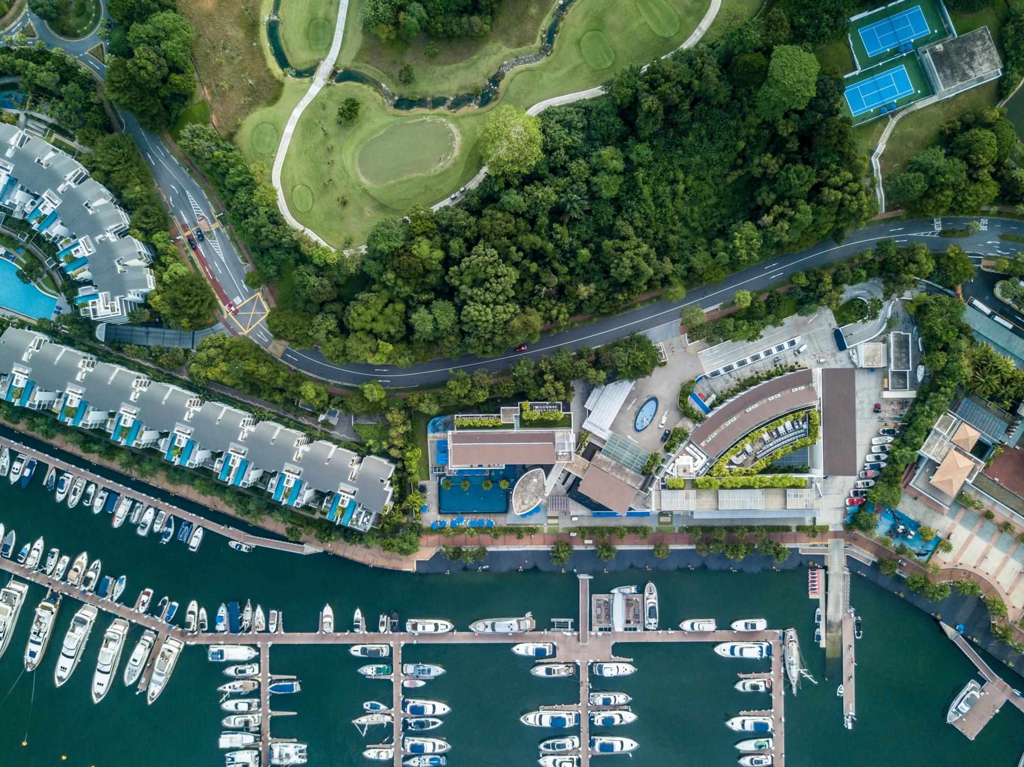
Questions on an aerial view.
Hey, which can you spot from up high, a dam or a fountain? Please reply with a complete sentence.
The image shows a fountain.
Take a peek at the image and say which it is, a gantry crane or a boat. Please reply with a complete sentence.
Visible in the photo is a boat.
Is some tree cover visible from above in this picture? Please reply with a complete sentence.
Yes, tree cover shows up in the scene.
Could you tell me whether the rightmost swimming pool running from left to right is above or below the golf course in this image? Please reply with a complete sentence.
The rightmost swimming pool running from left to right appears below the golf course in the picture.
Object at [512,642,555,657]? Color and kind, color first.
white boat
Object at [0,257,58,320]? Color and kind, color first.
blue swimming pool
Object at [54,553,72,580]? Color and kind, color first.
white boat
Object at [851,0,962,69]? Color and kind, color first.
blue tennis court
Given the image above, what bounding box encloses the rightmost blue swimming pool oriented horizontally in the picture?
[438,465,543,514]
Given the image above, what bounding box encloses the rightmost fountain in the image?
[634,397,658,432]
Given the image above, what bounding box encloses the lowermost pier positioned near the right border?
[952,670,1024,740]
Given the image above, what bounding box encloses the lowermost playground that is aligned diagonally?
[866,502,941,563]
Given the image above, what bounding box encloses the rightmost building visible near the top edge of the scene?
[915,26,1002,101]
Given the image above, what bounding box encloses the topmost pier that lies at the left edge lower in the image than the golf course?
[0,437,255,547]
